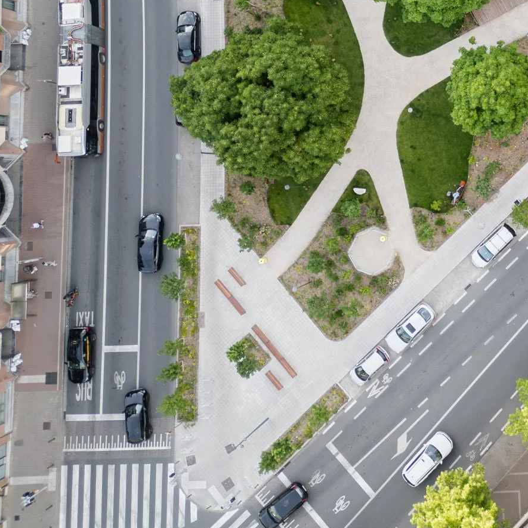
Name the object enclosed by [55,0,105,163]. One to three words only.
bus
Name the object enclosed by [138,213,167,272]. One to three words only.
car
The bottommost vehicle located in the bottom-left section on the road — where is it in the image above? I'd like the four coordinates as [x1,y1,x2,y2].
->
[121,386,155,444]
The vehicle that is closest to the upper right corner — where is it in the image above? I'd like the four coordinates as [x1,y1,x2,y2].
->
[470,220,520,269]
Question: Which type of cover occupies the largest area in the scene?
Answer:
paved ground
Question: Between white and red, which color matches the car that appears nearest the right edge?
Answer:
white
